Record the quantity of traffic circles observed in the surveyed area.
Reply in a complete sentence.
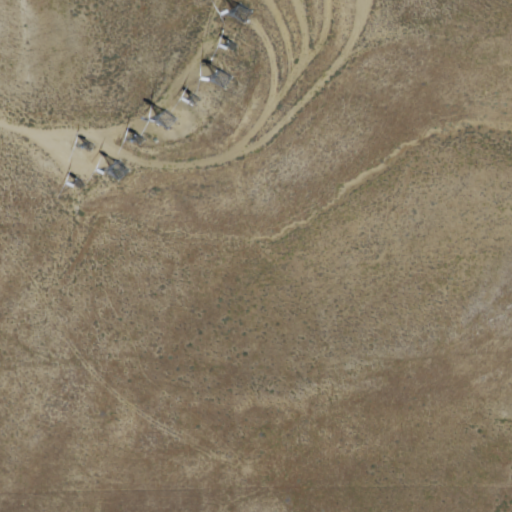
There are no traffic circles in this view.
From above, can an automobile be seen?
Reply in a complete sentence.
No, this view has no automobile in it.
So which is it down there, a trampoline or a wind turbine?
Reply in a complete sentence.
I can see a wind turbine in this picture.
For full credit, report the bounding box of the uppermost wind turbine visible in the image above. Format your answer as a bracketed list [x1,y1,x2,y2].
[215,0,254,25]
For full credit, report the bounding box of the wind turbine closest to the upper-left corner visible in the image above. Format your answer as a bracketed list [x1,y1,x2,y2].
[69,135,95,158]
